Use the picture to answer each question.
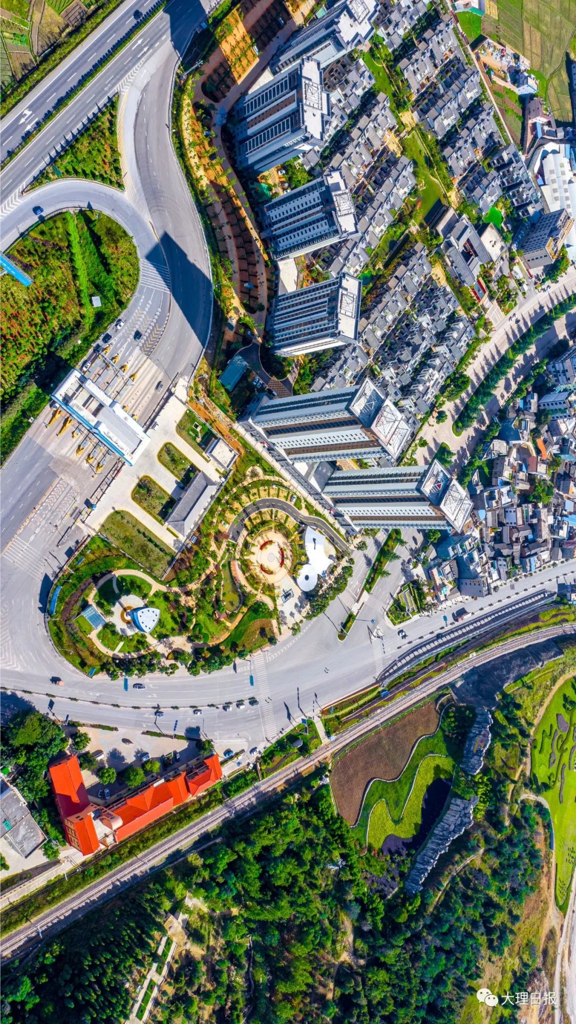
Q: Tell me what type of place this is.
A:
residential area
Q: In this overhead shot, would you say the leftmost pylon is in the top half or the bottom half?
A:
top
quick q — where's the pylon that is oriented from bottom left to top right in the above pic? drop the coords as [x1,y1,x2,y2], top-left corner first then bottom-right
[181,62,210,82]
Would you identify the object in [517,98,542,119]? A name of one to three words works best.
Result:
house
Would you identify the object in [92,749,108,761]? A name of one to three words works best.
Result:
vehicle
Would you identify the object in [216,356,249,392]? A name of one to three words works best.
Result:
shed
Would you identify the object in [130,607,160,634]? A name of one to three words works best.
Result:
building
